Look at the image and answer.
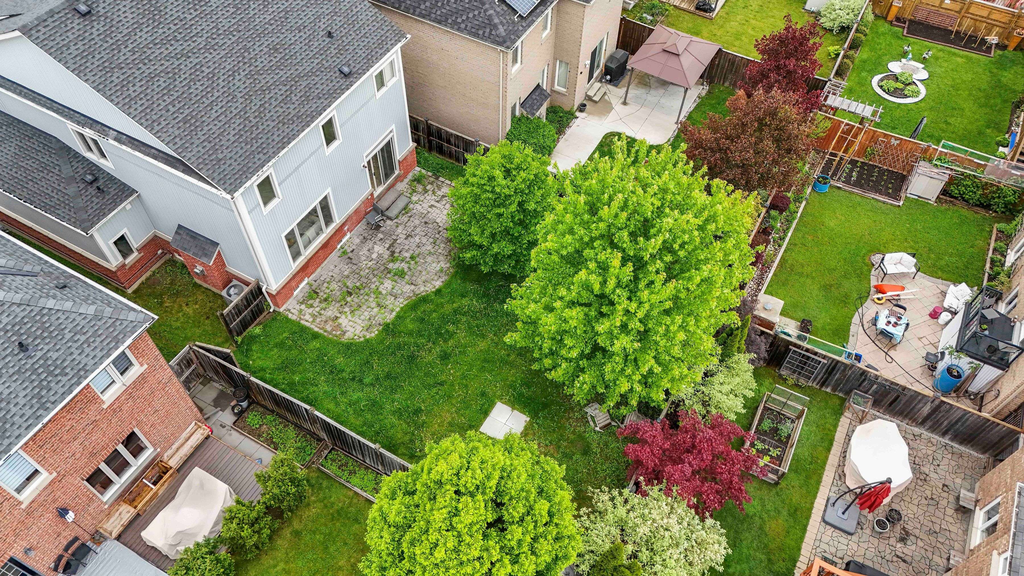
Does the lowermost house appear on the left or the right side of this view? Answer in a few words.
right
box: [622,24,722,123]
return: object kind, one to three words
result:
gazebo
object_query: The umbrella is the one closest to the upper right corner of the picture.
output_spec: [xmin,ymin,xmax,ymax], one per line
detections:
[909,113,929,145]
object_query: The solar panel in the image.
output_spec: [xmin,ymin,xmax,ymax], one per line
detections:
[510,0,547,20]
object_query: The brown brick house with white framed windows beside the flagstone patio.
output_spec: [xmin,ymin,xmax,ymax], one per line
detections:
[951,438,1024,576]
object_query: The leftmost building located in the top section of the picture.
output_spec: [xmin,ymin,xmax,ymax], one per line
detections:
[0,0,418,316]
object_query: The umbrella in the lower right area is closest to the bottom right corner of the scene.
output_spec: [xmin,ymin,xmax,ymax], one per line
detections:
[823,477,892,535]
